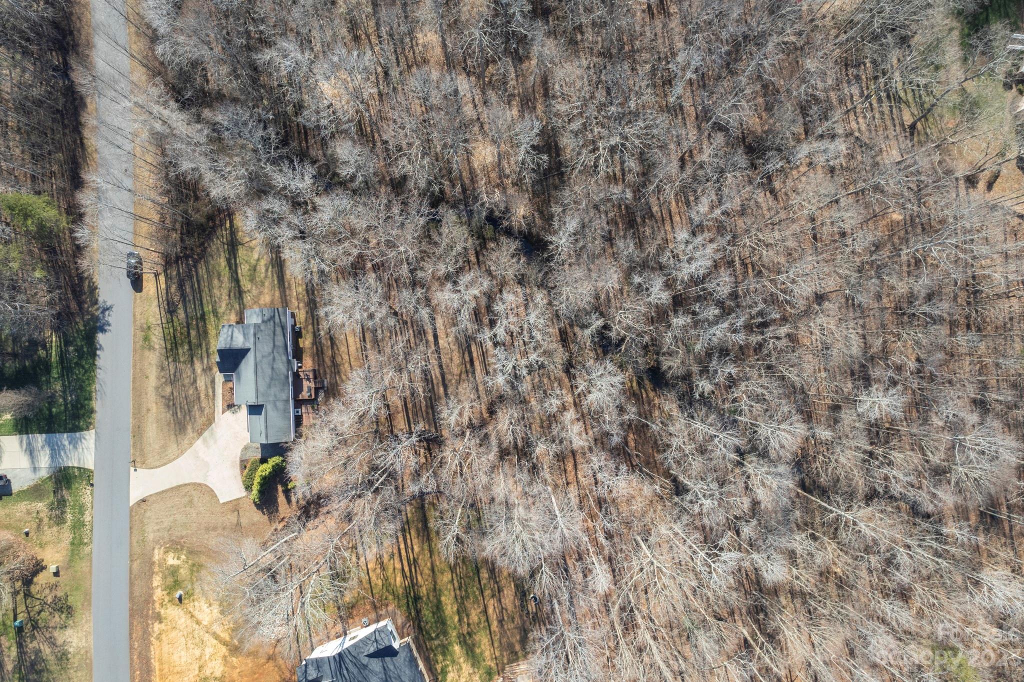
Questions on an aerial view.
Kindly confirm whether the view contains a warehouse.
No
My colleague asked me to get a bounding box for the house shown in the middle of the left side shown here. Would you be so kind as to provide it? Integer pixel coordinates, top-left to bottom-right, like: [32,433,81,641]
[213,307,301,444]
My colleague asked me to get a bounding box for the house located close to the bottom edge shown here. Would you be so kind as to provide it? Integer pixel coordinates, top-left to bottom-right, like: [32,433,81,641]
[295,618,424,682]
